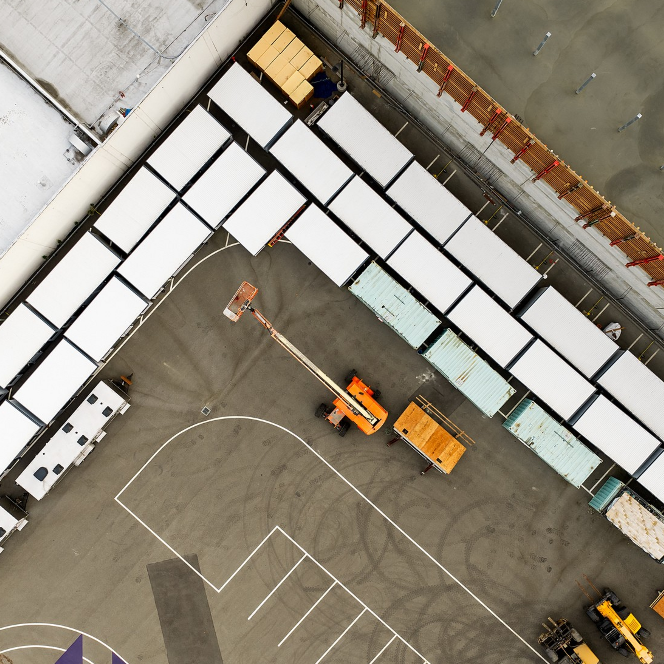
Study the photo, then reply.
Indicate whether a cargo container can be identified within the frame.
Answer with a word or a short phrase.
Yes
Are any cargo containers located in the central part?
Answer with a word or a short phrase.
Yes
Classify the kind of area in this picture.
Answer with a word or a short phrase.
industrial area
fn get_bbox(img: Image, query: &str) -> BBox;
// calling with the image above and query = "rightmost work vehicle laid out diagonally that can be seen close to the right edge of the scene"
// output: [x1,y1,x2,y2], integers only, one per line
[575,575,653,664]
